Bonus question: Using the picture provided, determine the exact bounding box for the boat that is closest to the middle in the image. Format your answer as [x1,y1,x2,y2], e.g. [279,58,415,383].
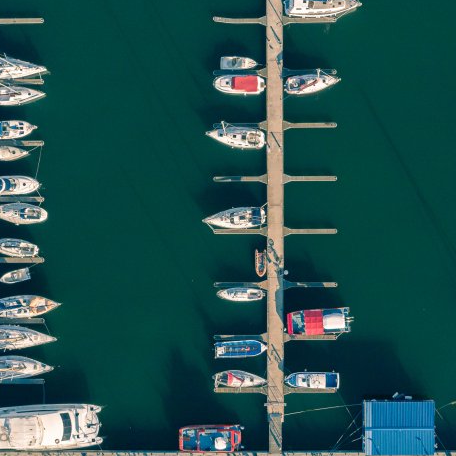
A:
[201,207,268,229]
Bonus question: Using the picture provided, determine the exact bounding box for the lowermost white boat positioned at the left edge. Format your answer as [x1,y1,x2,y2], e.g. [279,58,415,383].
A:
[0,403,104,449]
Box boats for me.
[0,79,48,108]
[0,403,104,449]
[282,307,353,336]
[221,55,269,71]
[0,324,58,353]
[0,201,50,224]
[0,119,37,140]
[215,285,269,302]
[0,236,41,258]
[283,0,362,20]
[213,338,269,357]
[0,293,60,321]
[0,52,48,81]
[282,69,343,97]
[201,207,268,229]
[212,74,269,96]
[0,354,55,381]
[206,122,269,151]
[255,250,267,277]
[0,269,34,283]
[216,371,269,391]
[282,369,339,390]
[0,175,41,196]
[0,144,30,163]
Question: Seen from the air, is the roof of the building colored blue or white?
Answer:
blue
